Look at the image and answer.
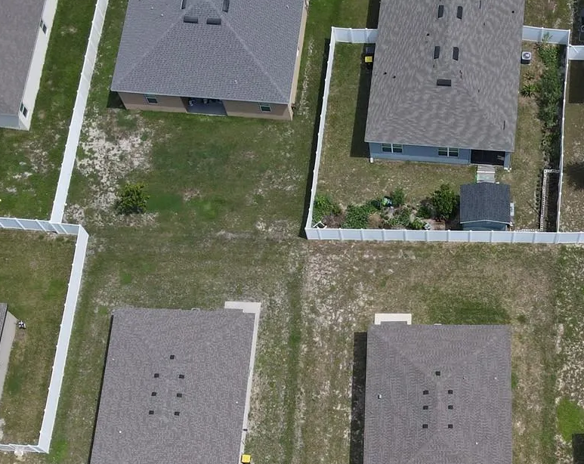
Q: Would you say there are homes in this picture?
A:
Yes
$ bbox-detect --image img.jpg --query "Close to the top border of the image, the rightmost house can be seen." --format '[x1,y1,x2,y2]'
[365,0,523,165]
